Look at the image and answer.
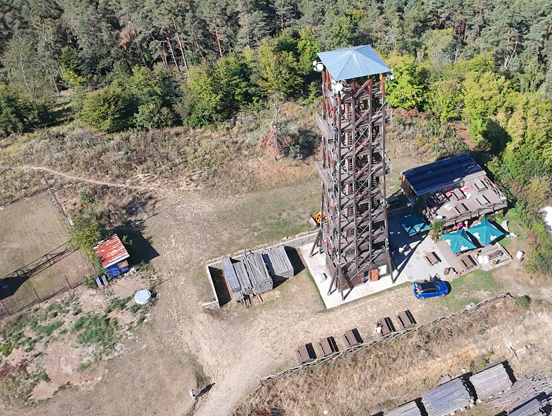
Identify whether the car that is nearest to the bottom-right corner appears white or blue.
blue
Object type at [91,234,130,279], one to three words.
shed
